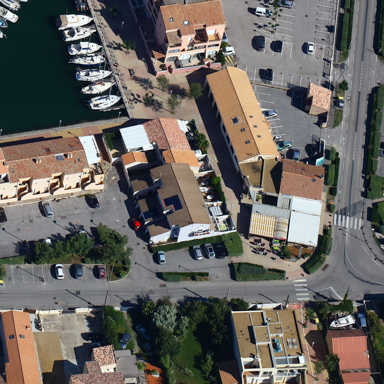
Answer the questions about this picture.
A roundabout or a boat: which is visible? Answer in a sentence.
Looking from above, you can make out a boat.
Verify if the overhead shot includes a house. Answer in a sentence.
Yes, you can see a house in this photo.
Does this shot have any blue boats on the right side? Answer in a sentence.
No, looking on the right side, there is no blue boat.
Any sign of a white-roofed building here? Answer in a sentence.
Yes, a white-roofed building can be made out from above.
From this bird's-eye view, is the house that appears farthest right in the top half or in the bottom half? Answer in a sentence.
Seen from above, the house that appears farthest right lies in the bottom half of the view.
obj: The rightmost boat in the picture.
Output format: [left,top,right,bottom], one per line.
[330,312,359,328]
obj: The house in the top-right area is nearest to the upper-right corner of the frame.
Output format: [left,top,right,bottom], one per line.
[306,82,332,121]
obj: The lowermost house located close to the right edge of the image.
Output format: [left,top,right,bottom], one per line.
[325,329,371,384]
